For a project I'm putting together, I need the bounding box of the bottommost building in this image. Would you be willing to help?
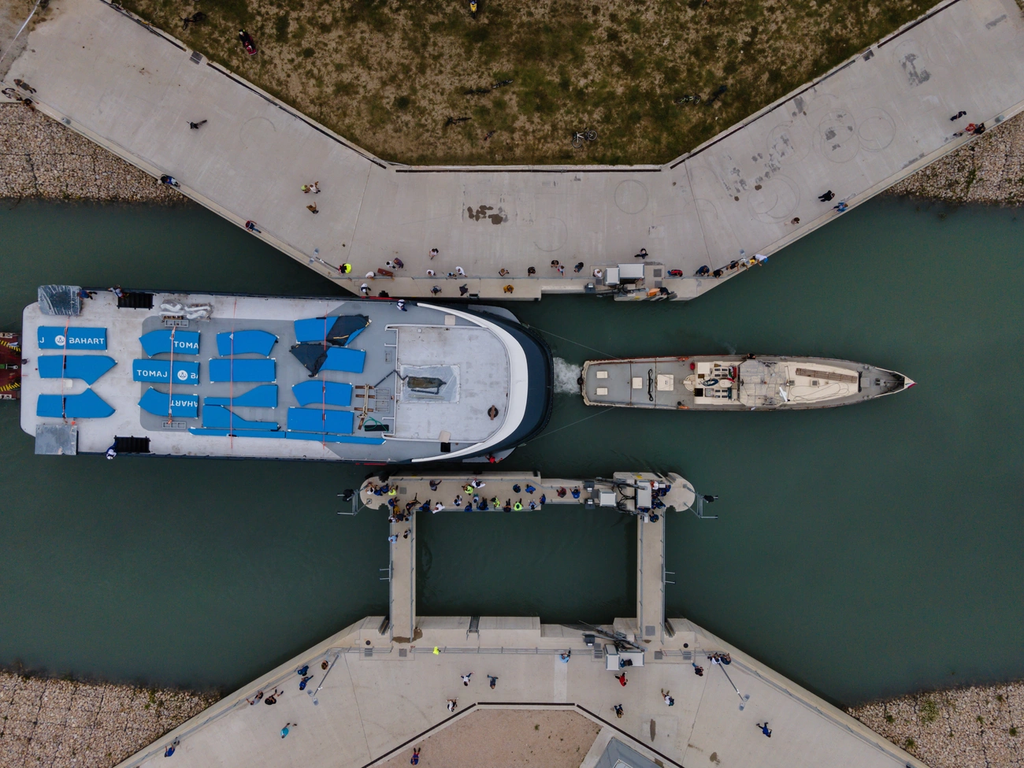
[594,736,666,768]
